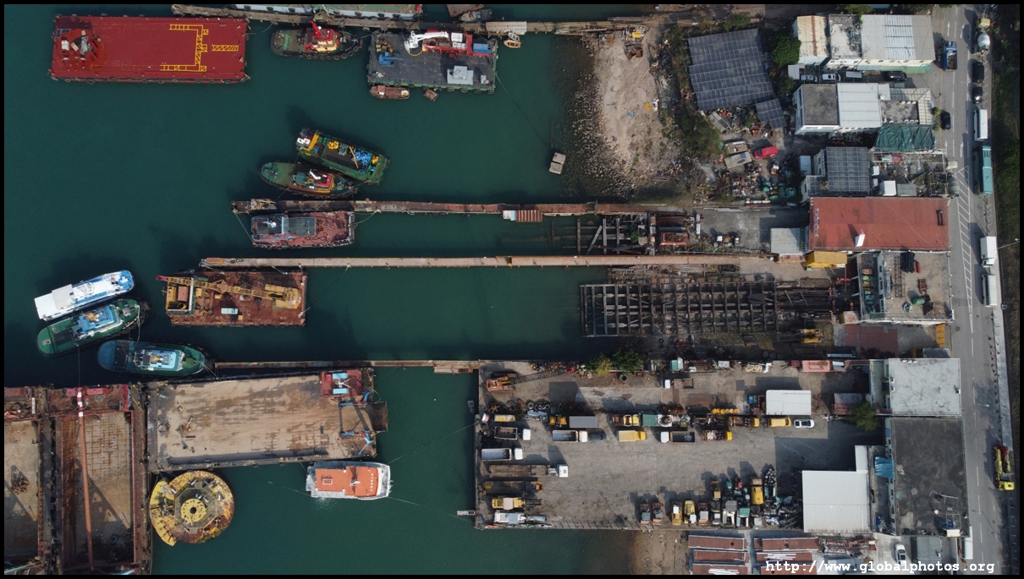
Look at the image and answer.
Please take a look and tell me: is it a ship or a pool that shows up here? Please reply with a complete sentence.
I can see a ship in this picture.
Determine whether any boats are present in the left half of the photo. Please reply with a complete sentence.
Yes, a boat shows up in the left half of the photo.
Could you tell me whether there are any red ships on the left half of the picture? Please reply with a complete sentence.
Yes, a red ship shows up on the left half of the picture.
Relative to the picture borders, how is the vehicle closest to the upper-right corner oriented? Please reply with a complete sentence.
I'd say the vehicle closest to the upper-right corner is aligned from top to bottom in the picture.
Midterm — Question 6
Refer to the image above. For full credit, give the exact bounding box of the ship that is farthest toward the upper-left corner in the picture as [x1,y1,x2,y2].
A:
[51,15,251,83]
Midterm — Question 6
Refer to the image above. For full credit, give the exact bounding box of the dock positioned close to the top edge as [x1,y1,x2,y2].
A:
[172,5,670,38]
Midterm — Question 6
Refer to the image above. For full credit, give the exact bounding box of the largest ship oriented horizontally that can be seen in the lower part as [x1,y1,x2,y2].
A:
[142,366,390,473]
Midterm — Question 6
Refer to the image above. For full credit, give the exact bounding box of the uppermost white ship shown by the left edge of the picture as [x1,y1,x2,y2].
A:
[34,271,138,322]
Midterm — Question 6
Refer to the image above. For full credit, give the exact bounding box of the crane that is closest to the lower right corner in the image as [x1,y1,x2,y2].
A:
[486,369,575,392]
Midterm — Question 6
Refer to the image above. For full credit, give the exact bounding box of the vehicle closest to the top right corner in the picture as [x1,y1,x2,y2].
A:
[969,17,989,59]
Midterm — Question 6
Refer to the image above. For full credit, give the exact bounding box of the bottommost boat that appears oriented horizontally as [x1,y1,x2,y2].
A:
[304,460,394,502]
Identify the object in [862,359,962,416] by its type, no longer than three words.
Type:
building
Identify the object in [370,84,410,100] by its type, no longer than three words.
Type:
boat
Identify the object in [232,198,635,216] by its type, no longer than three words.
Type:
pier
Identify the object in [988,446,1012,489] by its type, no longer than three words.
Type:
truck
